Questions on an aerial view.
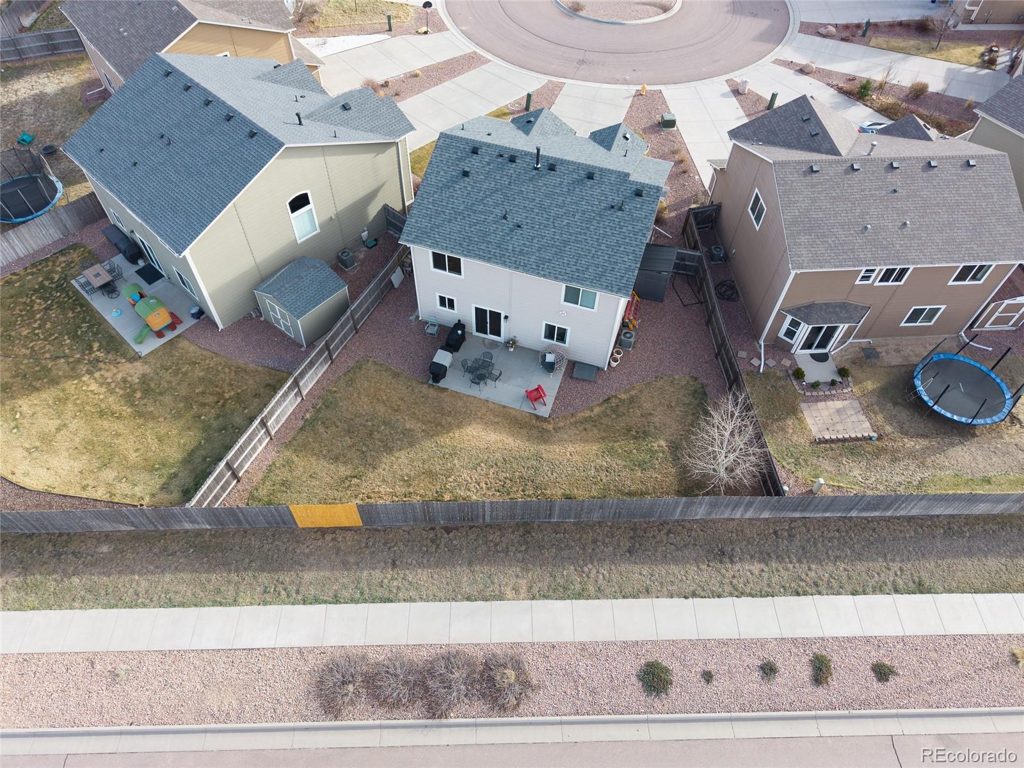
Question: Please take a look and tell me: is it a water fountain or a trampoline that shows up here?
trampoline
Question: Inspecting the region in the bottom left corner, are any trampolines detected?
No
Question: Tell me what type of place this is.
residential area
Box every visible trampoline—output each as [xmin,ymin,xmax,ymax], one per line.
[0,149,67,229]
[904,333,1024,436]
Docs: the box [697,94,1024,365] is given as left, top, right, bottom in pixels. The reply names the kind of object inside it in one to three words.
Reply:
house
